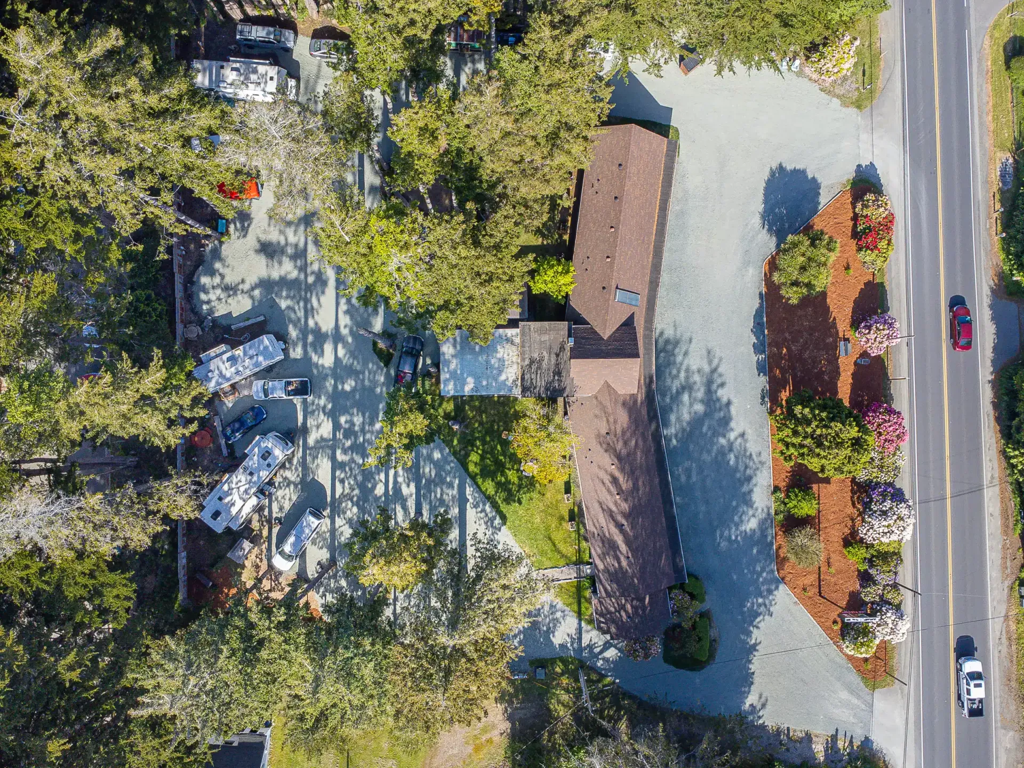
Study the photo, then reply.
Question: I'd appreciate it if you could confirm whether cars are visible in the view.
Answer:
Yes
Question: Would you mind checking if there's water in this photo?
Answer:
No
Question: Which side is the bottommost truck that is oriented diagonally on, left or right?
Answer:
left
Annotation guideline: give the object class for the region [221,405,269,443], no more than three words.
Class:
car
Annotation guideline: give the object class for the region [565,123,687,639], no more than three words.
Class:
building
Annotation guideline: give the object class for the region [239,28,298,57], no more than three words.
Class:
truck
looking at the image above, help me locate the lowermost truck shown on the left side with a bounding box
[271,509,322,571]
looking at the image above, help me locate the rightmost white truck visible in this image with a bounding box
[957,655,986,716]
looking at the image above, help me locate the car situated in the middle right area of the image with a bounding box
[950,306,975,351]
